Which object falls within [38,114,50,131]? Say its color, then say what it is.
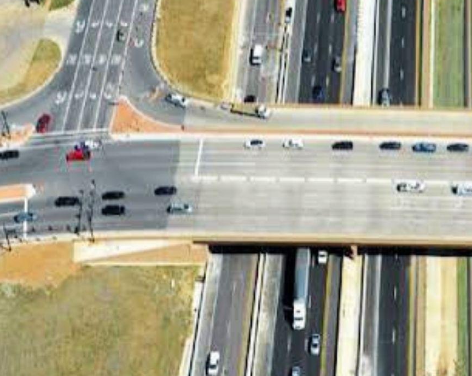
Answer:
red vehicle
